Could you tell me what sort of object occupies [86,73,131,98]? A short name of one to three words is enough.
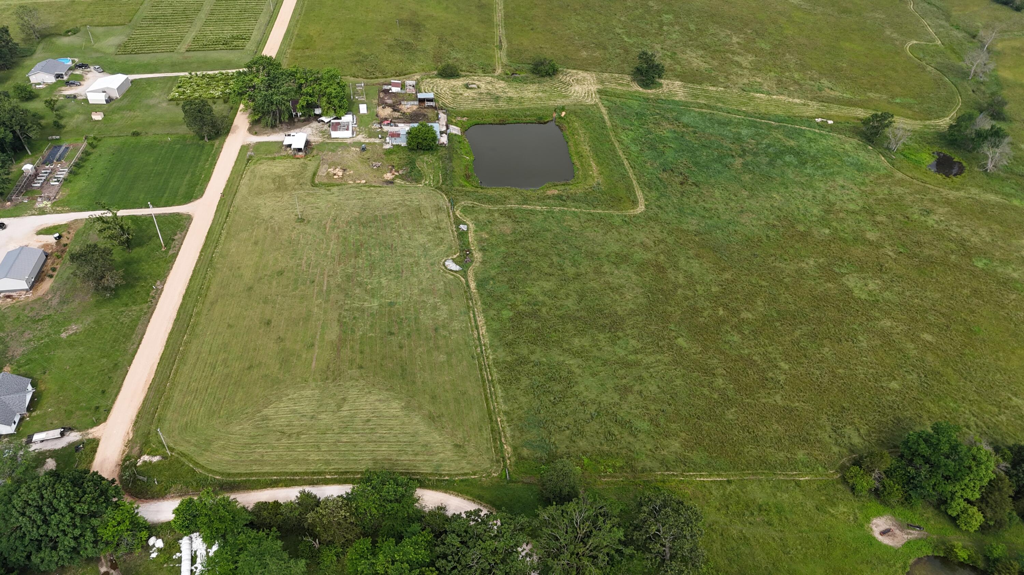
building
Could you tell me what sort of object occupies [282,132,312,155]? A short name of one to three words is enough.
barn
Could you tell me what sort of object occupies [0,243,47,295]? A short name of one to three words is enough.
building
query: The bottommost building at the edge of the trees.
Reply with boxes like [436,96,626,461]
[0,371,44,435]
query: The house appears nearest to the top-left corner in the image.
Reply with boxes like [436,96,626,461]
[27,58,77,82]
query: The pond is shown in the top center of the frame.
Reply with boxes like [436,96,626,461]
[467,119,574,189]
